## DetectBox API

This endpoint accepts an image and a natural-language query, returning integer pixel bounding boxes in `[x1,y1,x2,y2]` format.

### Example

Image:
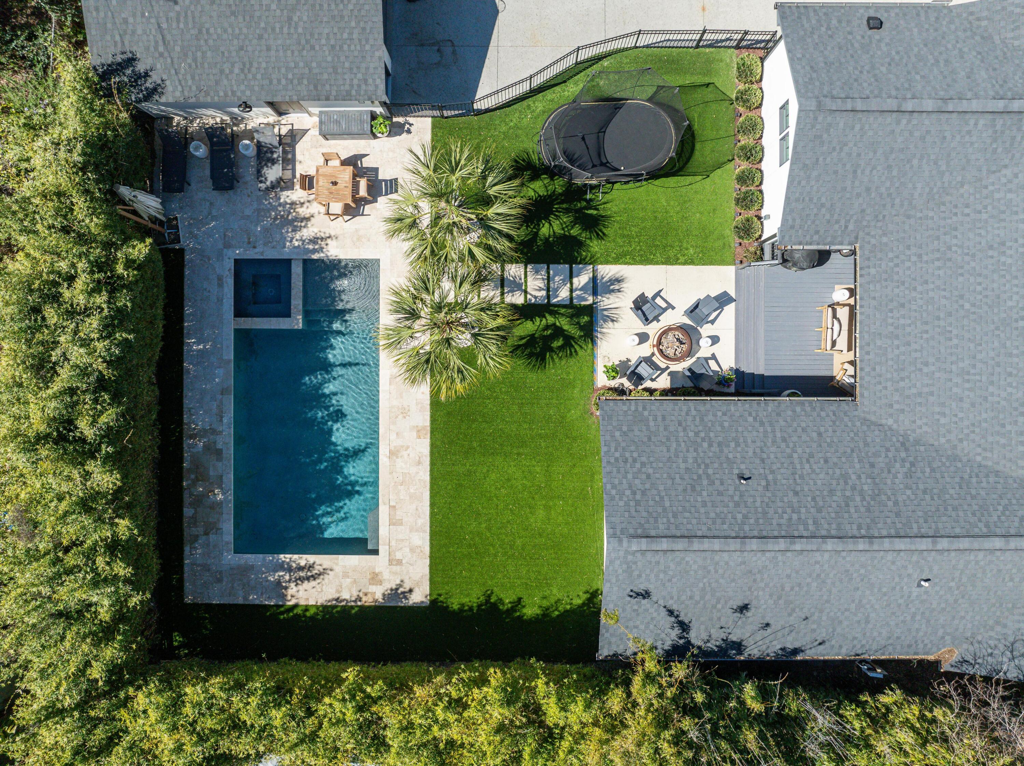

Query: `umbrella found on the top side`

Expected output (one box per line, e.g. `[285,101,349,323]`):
[114,183,177,245]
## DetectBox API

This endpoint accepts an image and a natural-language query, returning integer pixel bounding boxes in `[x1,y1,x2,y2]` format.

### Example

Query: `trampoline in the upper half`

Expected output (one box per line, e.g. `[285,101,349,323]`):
[533,67,693,195]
